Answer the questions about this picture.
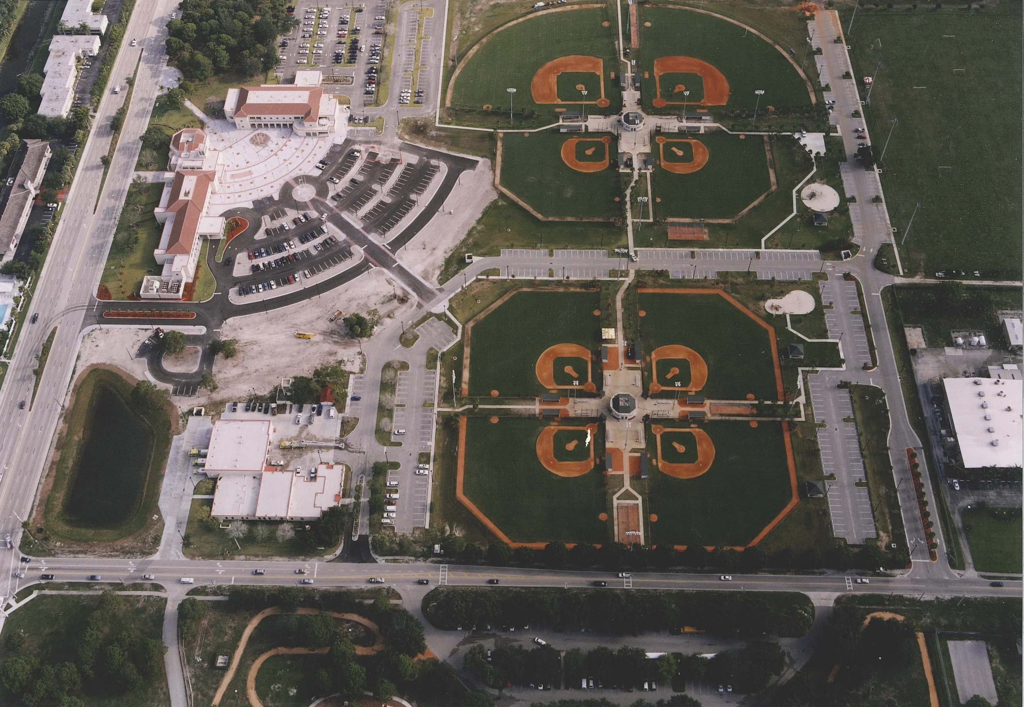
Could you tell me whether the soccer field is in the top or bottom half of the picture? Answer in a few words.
top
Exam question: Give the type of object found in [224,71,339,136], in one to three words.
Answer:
building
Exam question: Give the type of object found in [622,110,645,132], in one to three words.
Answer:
building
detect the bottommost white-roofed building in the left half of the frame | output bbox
[205,420,345,521]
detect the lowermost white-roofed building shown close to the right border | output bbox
[938,378,1024,477]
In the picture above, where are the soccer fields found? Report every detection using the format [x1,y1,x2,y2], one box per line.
[855,14,1024,274]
